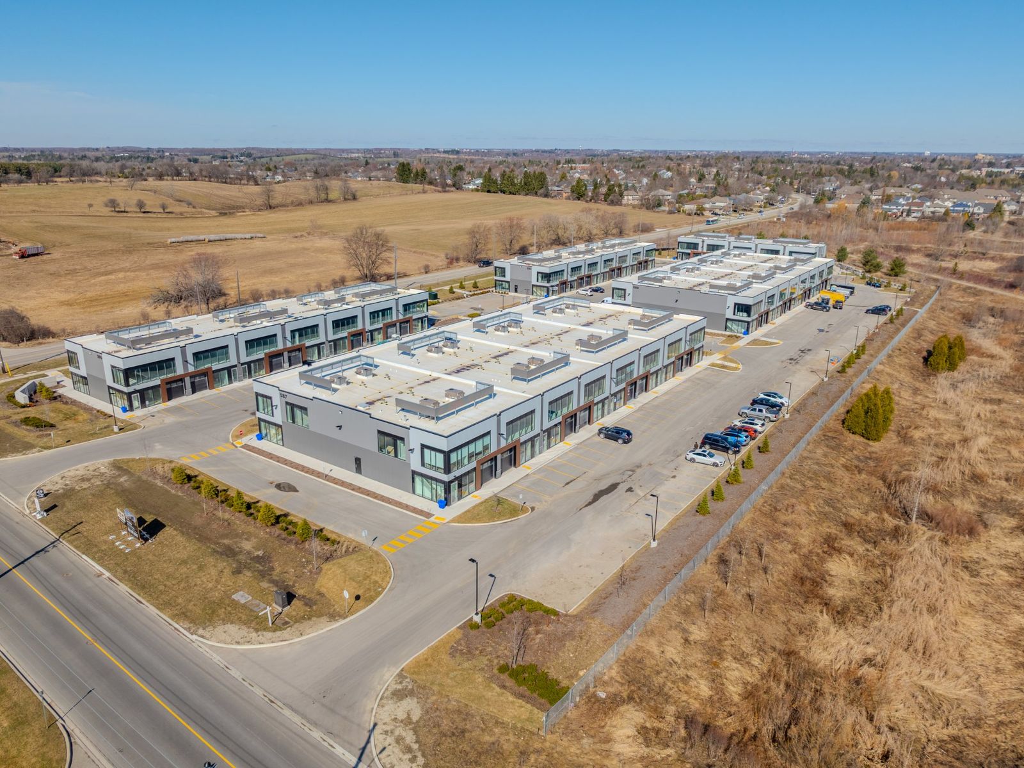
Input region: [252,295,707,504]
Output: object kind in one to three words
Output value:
building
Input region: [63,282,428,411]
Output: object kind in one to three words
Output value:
building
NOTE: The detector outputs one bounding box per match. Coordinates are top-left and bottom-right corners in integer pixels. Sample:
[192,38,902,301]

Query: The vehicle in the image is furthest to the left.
[12,243,45,258]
